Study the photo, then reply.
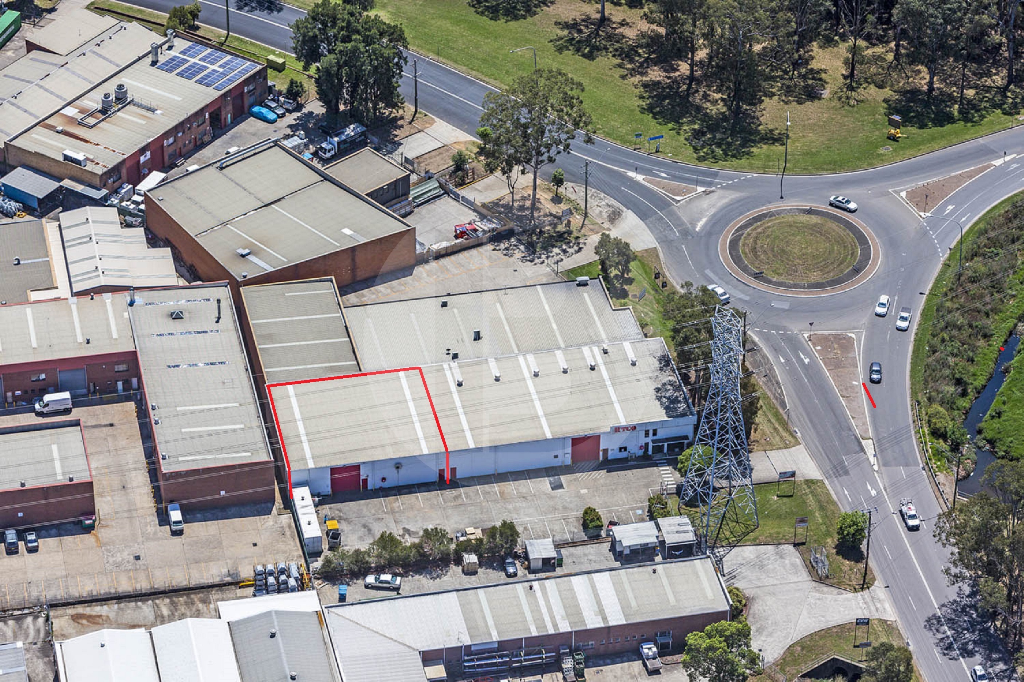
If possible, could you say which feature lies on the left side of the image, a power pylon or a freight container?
freight container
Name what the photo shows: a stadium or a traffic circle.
traffic circle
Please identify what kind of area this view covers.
industrial area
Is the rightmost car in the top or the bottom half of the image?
bottom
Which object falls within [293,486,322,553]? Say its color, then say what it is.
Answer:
white shipping container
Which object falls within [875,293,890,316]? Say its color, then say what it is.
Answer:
white car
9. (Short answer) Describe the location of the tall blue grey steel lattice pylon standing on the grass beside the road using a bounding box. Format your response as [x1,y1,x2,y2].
[672,305,769,552]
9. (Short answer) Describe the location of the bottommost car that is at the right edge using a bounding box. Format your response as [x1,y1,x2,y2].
[970,662,990,682]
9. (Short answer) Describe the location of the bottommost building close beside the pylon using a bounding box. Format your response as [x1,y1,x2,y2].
[323,552,733,675]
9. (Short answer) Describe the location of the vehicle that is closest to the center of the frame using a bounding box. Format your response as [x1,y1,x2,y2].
[455,222,473,238]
